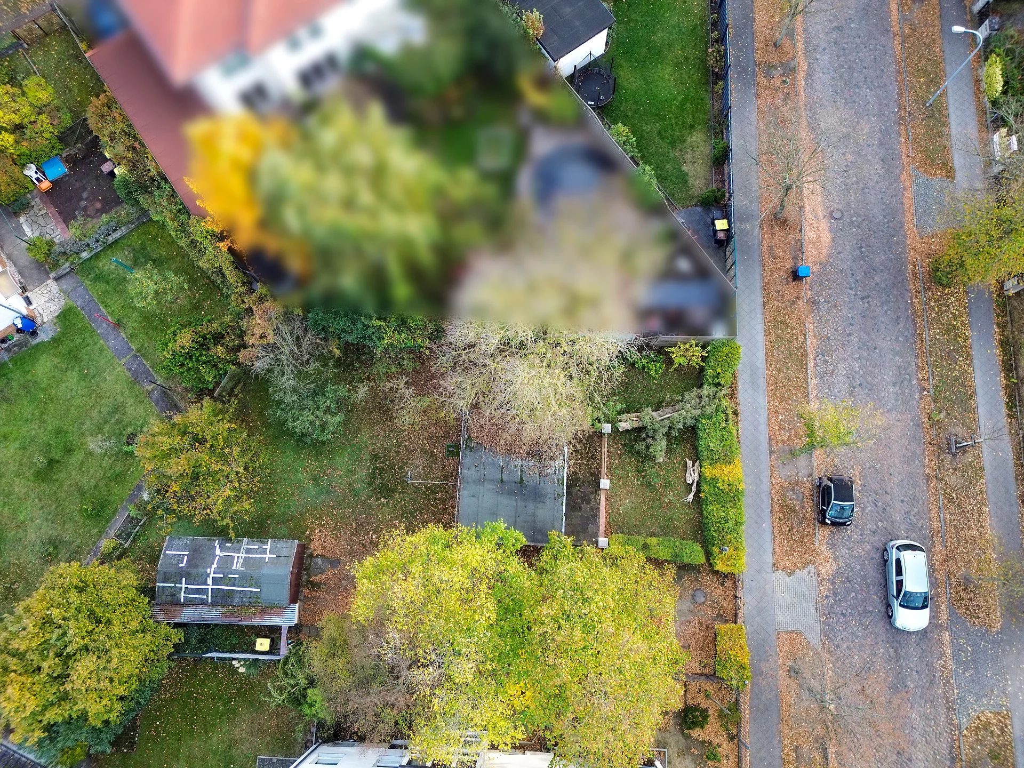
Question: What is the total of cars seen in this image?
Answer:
2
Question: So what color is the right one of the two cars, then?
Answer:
white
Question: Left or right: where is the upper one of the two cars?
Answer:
right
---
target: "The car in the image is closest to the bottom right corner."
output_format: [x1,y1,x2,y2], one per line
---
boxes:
[879,538,936,633]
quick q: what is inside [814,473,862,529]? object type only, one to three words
car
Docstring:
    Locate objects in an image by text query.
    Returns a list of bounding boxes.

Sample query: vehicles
[814,473,862,529]
[879,538,936,633]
